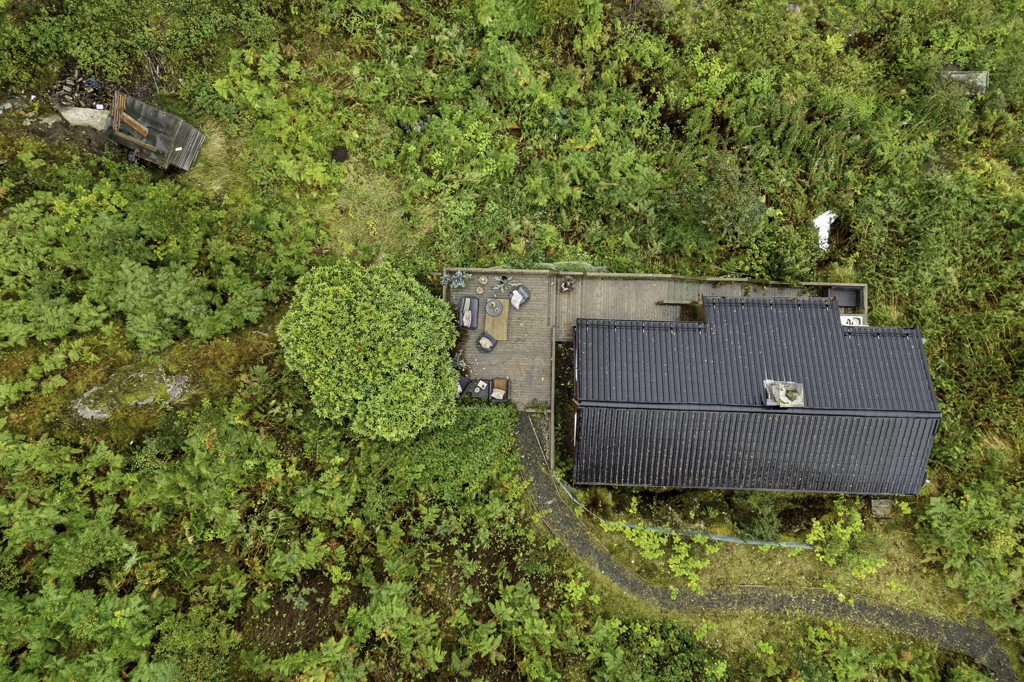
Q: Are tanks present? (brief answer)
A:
No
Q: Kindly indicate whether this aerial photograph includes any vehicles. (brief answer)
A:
No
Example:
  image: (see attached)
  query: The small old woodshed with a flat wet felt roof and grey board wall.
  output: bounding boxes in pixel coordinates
[103,90,205,179]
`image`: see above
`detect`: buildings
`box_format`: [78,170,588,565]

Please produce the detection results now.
[103,90,205,179]
[569,295,945,498]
